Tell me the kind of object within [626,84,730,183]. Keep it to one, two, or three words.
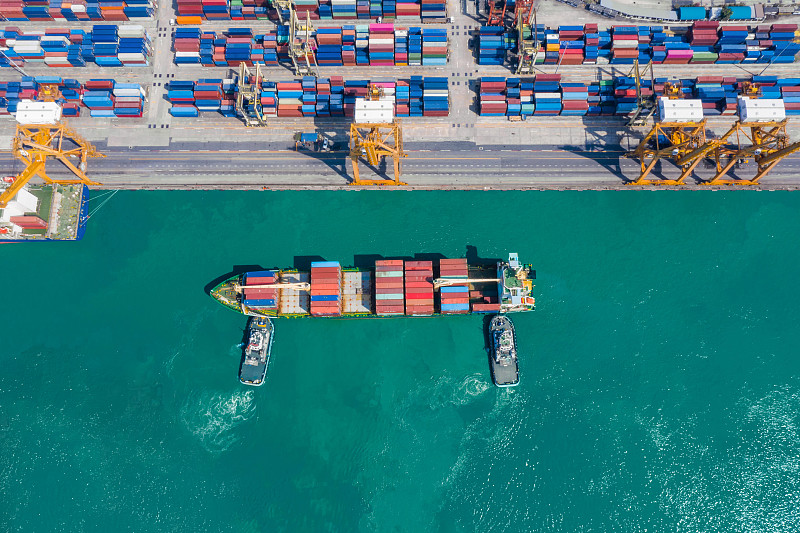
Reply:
container crane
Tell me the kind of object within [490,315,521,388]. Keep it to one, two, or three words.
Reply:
boat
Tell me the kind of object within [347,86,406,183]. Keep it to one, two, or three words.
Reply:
container crane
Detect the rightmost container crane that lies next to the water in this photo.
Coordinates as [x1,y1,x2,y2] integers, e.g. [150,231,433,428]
[704,84,800,183]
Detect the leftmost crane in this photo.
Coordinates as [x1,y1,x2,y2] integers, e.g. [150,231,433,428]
[0,88,104,208]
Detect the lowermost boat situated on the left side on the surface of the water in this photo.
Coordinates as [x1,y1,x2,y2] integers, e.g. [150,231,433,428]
[238,317,273,388]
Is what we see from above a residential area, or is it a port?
port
